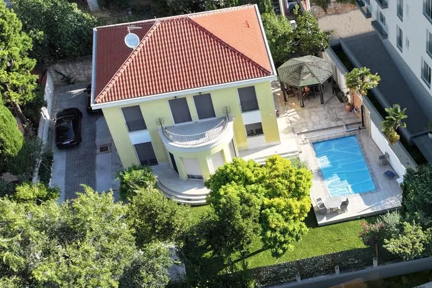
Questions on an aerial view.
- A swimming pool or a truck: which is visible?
swimming pool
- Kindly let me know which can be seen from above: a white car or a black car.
black car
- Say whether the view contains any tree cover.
Yes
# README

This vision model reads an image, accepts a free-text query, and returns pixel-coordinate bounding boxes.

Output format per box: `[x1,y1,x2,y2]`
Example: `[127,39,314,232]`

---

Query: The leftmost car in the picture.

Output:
[53,100,81,146]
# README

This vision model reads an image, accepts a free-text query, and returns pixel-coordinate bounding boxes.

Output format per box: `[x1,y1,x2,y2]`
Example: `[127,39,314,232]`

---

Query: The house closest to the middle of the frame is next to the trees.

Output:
[89,2,277,179]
